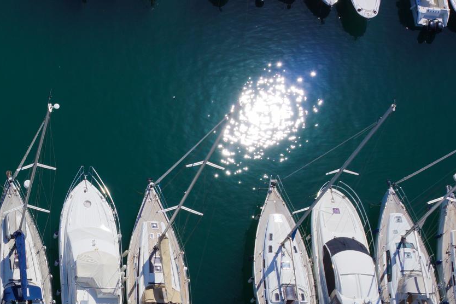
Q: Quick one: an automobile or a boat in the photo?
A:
boat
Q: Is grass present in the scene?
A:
No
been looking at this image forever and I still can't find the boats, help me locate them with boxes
[436,186,456,304]
[57,165,123,304]
[374,149,456,304]
[126,105,234,304]
[0,89,61,304]
[410,0,451,36]
[250,93,404,304]
[317,0,339,11]
[306,174,380,304]
[350,0,382,21]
